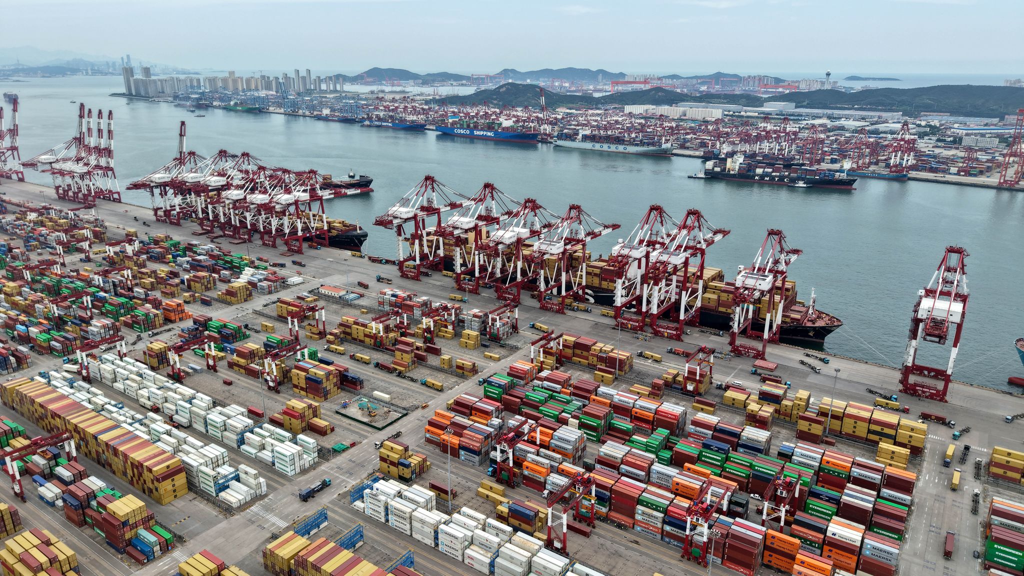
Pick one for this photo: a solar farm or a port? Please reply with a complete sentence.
The picture captures a port.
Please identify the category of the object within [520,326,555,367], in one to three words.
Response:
container crane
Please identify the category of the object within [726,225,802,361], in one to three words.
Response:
container crane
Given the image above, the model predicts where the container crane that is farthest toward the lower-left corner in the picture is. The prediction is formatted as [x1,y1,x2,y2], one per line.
[5,424,86,500]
